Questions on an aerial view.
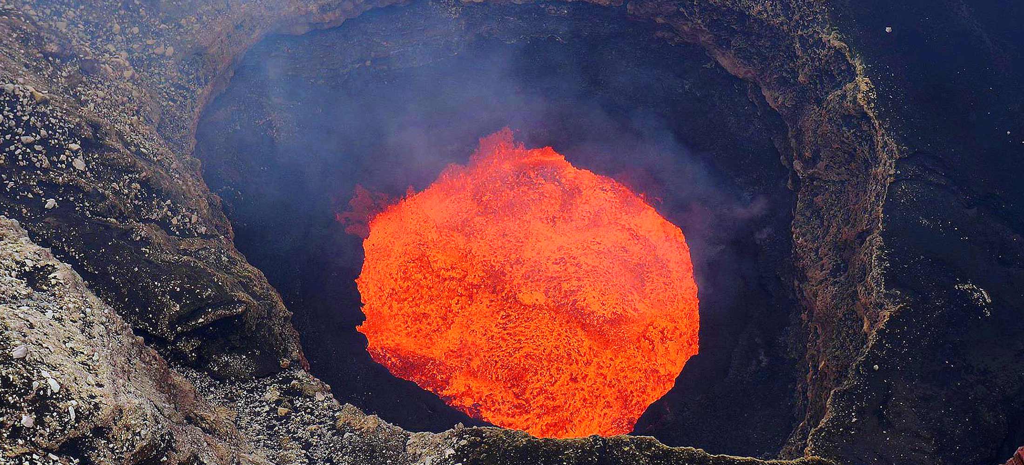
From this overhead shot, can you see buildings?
No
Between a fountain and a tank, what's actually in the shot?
fountain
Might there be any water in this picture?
Yes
